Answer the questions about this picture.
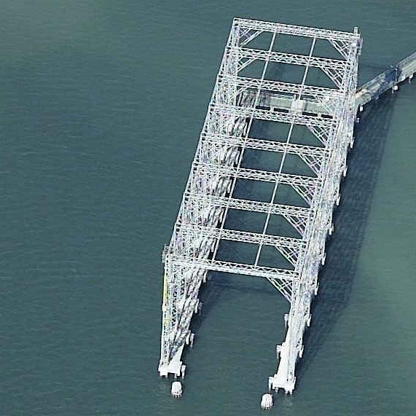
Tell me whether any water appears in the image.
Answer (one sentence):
Yes, there is water in the image.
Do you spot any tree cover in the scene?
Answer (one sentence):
No, the scene doesn't show any tree cover.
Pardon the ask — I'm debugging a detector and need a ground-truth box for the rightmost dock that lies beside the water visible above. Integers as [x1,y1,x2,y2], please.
[264,101,366,395]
